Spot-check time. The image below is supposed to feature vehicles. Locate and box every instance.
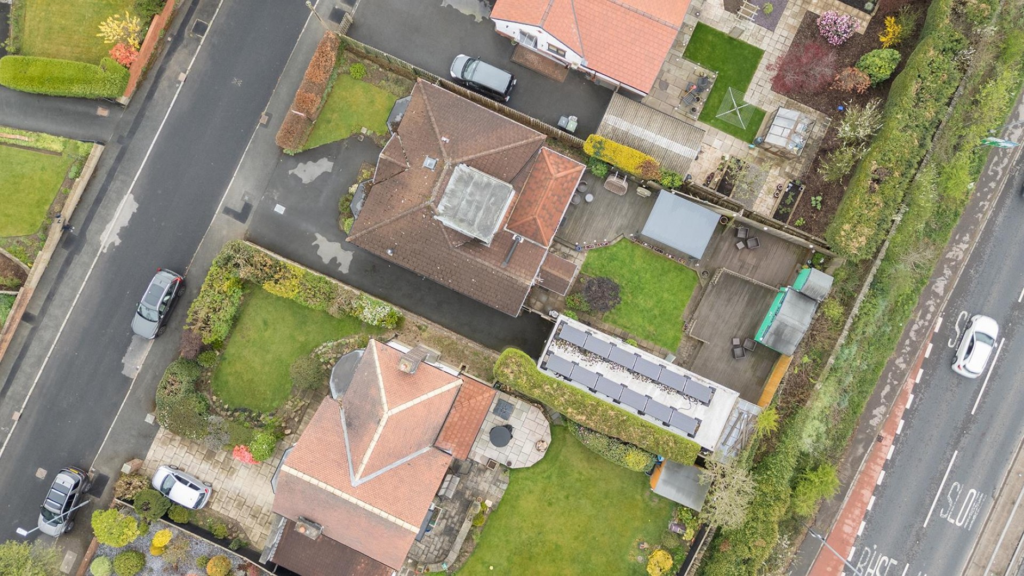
[123,265,183,343]
[952,314,1008,385]
[26,464,89,544]
[145,466,212,517]
[446,52,522,109]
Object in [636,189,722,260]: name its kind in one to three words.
gazebo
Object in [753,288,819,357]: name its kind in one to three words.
shed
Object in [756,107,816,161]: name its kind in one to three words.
greenhouse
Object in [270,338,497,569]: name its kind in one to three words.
house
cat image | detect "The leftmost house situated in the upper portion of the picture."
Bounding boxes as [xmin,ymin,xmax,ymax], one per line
[346,79,587,317]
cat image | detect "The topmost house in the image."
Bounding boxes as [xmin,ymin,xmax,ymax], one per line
[487,0,695,100]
